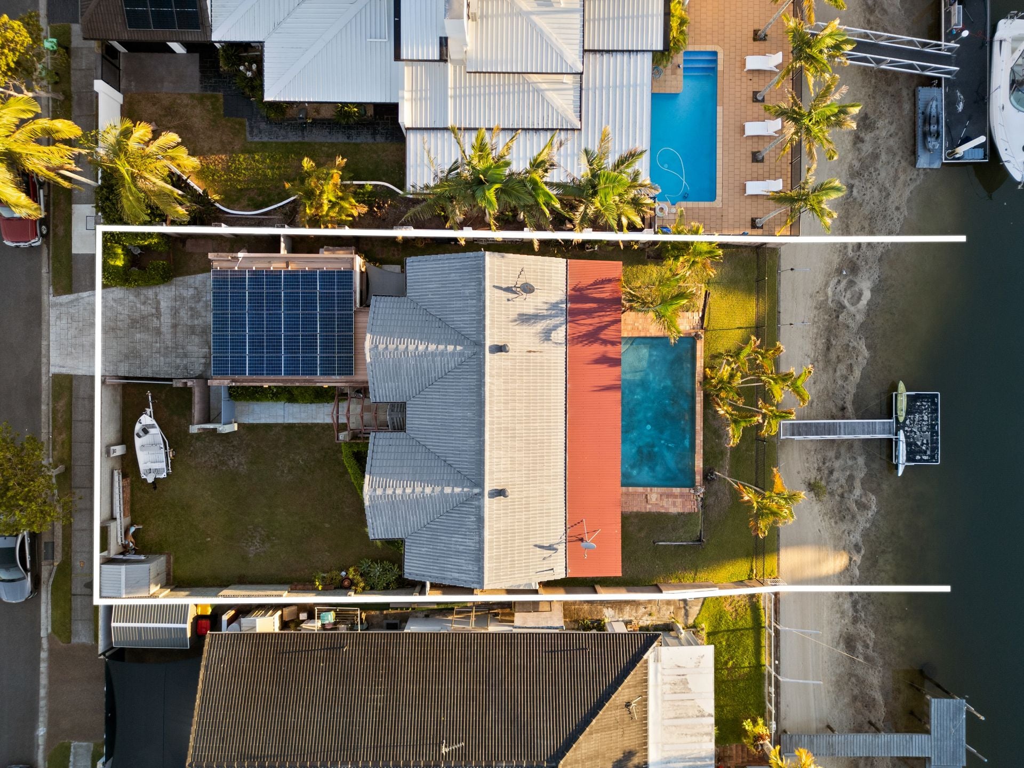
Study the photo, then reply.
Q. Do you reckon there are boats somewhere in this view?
Yes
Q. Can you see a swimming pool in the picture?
Yes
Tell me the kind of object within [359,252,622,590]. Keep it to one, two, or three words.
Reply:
house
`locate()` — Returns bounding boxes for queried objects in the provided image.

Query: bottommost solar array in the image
[212,267,354,379]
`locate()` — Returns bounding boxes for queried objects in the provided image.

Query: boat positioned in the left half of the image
[131,413,167,484]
